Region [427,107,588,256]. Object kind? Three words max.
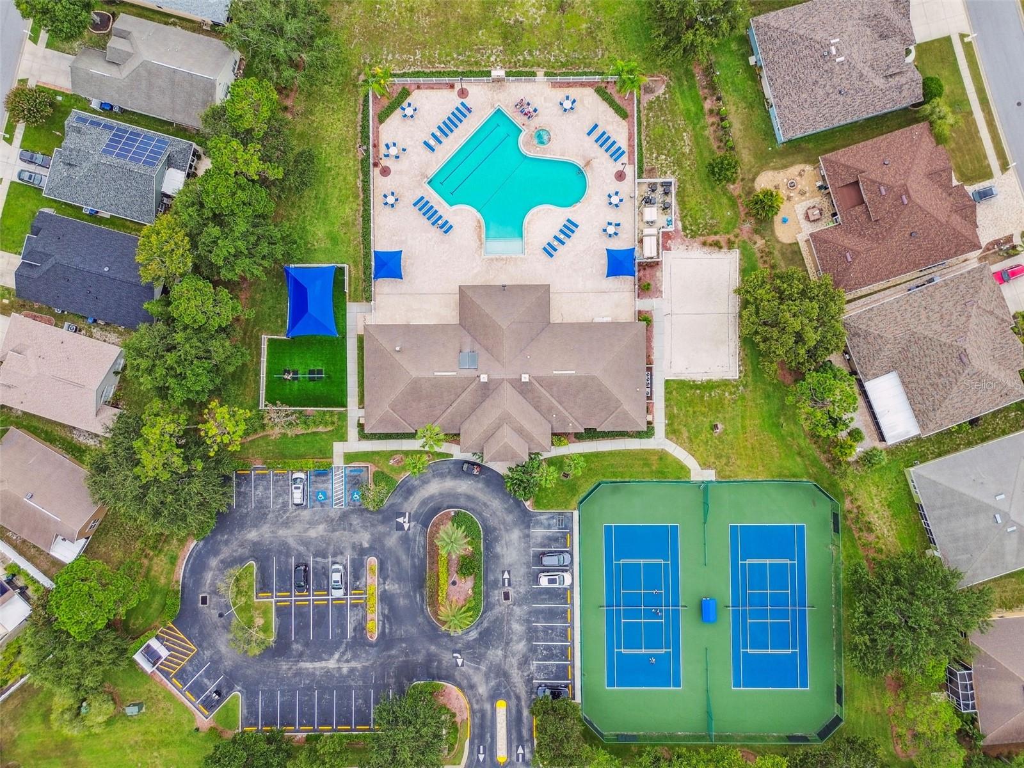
swimming pool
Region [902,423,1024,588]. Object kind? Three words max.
house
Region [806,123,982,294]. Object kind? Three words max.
house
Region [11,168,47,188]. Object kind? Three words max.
car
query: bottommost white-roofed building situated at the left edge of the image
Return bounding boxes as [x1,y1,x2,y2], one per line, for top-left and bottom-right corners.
[0,564,30,635]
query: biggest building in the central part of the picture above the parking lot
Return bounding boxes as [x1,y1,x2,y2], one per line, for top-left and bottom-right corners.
[364,284,647,463]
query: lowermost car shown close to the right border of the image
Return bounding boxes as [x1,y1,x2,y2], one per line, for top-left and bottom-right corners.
[994,264,1024,284]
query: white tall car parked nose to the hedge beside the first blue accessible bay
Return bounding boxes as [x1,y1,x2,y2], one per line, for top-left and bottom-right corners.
[288,472,305,507]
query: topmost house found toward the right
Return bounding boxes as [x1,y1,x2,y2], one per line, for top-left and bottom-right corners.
[747,0,924,144]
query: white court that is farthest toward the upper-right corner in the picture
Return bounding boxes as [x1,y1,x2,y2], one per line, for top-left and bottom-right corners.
[663,250,739,379]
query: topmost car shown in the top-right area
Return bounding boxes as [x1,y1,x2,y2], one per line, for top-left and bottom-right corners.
[972,182,1005,203]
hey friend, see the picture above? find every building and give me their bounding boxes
[42,109,195,225]
[0,426,107,562]
[0,564,30,635]
[364,284,647,463]
[70,13,240,131]
[15,210,174,329]
[806,123,982,294]
[838,262,1024,445]
[747,0,924,144]
[134,0,238,31]
[959,611,1024,746]
[0,312,127,436]
[902,423,1024,588]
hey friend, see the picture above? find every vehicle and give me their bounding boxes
[972,182,1005,203]
[291,563,307,594]
[11,168,47,188]
[540,554,570,570]
[537,685,570,701]
[328,564,344,597]
[288,472,305,507]
[12,146,50,168]
[205,686,225,708]
[994,264,1024,284]
[538,573,571,590]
